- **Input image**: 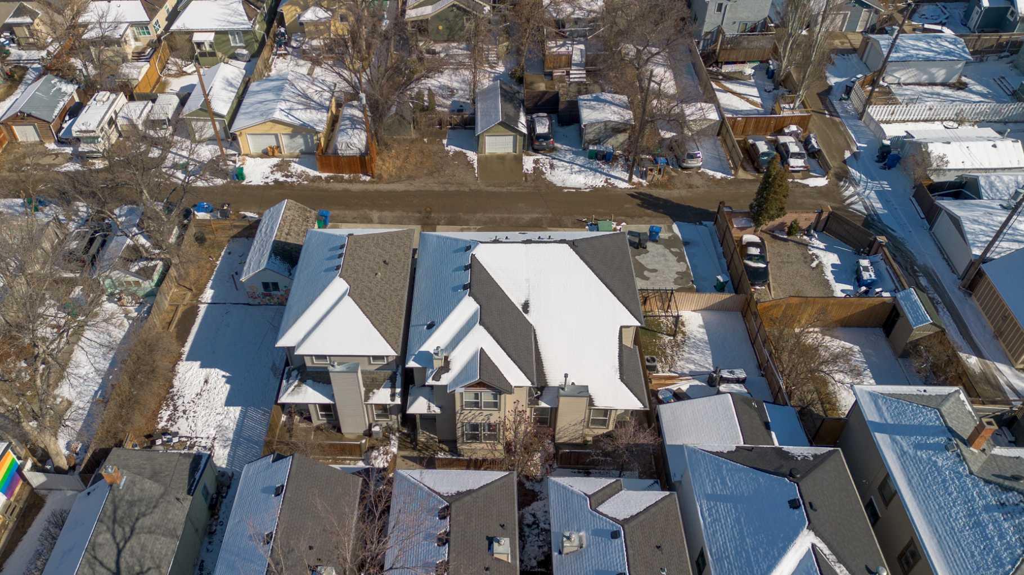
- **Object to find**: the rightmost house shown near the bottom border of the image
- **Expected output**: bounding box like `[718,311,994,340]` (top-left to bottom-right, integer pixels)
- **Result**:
[831,385,1024,575]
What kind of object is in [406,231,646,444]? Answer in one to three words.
house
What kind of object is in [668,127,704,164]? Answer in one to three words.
car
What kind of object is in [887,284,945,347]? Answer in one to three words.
shed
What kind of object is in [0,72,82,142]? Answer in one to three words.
building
